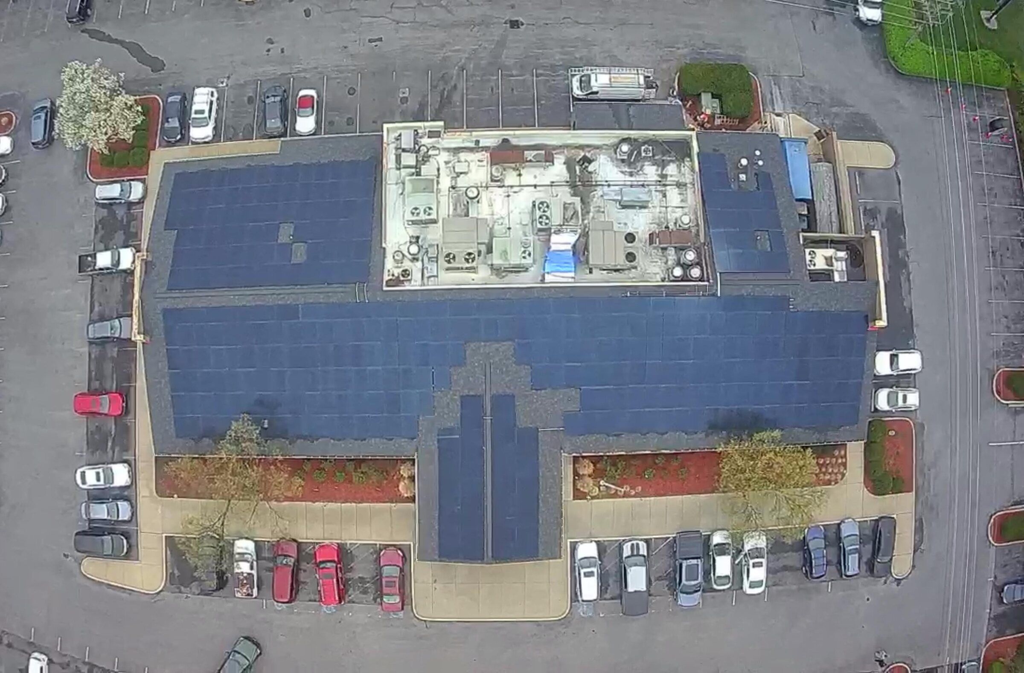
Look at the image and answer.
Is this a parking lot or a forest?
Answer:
parking lot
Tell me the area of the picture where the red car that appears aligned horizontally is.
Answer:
left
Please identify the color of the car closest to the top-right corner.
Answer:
white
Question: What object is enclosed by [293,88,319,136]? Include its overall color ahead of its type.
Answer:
white car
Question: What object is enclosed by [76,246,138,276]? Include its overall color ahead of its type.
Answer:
white vehicle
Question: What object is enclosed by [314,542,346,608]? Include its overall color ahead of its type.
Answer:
red car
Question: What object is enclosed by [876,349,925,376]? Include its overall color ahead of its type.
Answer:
white car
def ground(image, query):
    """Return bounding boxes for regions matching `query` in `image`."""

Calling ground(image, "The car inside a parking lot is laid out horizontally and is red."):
[71,391,129,417]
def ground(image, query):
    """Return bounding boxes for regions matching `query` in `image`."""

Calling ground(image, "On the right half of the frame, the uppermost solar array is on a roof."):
[701,152,789,271]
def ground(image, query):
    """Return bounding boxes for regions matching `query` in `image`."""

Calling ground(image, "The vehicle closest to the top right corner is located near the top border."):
[854,0,885,26]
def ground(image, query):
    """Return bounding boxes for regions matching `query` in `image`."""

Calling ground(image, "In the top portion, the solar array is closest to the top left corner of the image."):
[164,158,376,289]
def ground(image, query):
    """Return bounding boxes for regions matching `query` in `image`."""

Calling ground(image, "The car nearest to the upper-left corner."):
[63,0,94,26]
